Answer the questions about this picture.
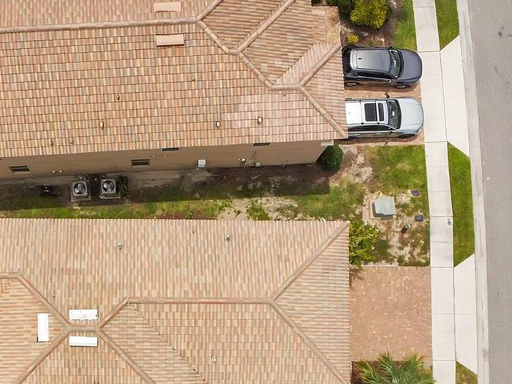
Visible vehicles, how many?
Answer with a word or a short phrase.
2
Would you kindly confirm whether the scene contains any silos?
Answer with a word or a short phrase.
No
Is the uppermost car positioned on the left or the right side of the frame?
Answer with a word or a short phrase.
right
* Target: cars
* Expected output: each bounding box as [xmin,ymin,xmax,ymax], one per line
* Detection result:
[349,94,423,141]
[343,42,421,89]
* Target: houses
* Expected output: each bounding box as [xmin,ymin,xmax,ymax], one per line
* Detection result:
[0,0,351,181]
[0,217,352,384]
